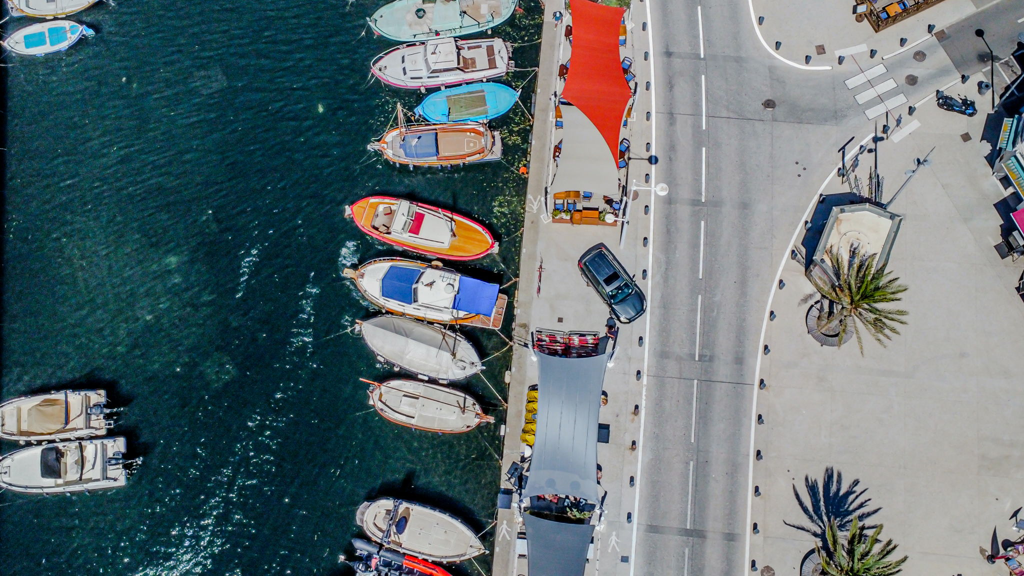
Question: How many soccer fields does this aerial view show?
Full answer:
There are no soccer fields in the image.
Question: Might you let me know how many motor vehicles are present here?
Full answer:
In total, 2 motor vehicles can be seen.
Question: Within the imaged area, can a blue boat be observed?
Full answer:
Yes, a blue boat is visible in the scene.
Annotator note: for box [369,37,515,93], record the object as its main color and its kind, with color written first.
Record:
white boat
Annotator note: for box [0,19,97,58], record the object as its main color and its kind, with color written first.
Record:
white boat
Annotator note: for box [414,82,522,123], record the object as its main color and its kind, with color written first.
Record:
blue boat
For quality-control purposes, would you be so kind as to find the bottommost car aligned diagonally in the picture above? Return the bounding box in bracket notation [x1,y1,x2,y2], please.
[576,243,647,325]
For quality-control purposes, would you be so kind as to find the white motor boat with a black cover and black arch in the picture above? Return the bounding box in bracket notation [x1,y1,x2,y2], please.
[0,434,145,497]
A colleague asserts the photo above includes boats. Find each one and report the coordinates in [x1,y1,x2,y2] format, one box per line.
[414,82,522,123]
[343,257,508,329]
[0,388,121,445]
[368,104,502,171]
[359,378,495,436]
[0,434,145,497]
[367,0,523,46]
[369,37,515,93]
[9,0,110,21]
[356,497,489,565]
[0,19,97,58]
[349,314,486,383]
[340,538,456,576]
[345,196,499,262]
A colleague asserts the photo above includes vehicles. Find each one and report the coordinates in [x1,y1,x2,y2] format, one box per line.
[935,88,976,114]
[576,243,647,325]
